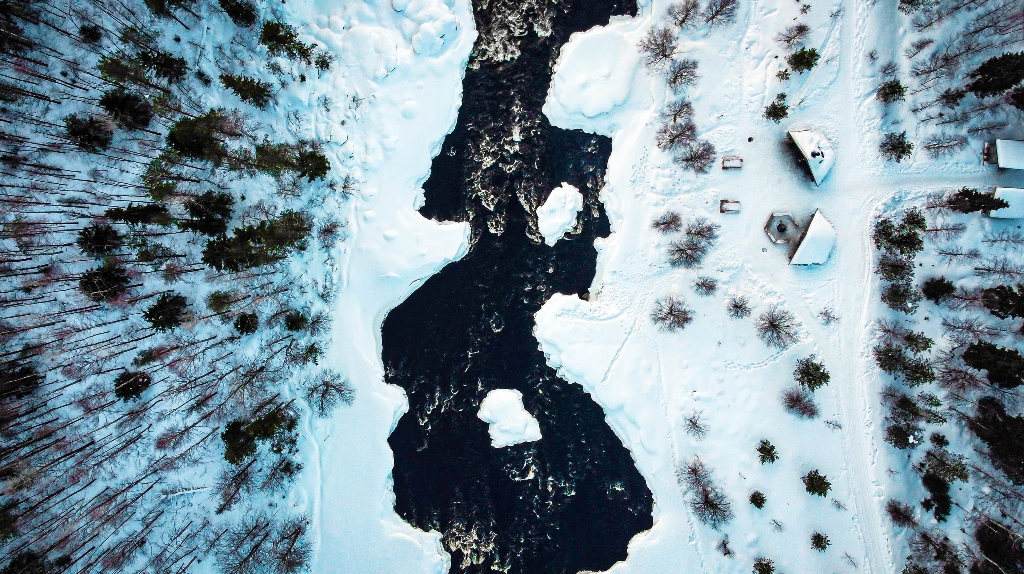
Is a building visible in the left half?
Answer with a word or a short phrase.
No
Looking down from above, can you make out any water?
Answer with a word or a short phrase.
Yes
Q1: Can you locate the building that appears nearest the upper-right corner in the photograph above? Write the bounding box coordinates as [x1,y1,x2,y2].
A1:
[981,139,1024,171]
